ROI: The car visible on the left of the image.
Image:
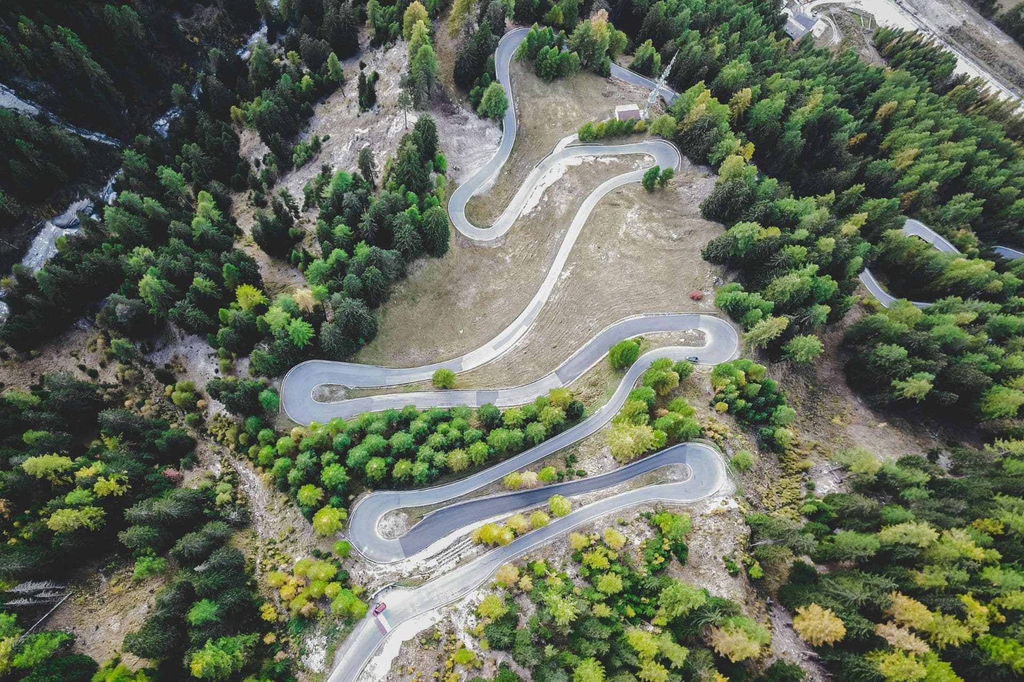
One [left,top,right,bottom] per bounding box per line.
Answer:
[372,603,387,619]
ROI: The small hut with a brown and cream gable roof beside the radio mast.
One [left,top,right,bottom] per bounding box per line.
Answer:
[615,104,639,121]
